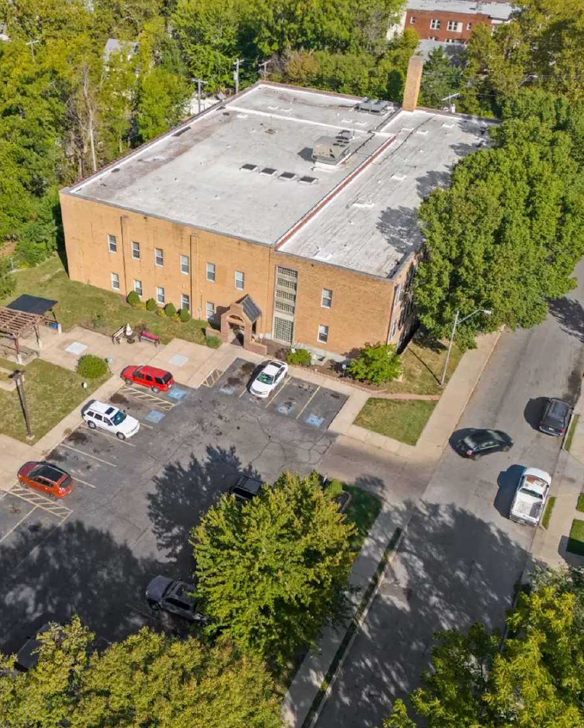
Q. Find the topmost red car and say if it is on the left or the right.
left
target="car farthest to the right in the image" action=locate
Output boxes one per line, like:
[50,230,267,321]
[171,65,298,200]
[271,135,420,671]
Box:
[540,396,577,439]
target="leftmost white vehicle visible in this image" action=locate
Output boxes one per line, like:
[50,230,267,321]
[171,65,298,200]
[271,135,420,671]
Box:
[81,397,144,440]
